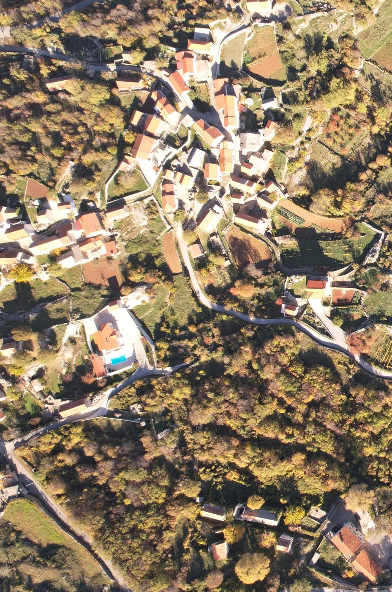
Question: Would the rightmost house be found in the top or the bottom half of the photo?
bottom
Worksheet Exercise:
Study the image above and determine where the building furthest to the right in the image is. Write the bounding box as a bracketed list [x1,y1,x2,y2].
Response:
[353,549,385,583]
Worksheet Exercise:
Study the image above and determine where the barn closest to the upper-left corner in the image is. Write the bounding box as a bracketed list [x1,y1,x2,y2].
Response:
[45,75,79,93]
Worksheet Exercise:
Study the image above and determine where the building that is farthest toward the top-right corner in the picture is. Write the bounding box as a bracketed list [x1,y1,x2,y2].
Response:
[245,0,272,13]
